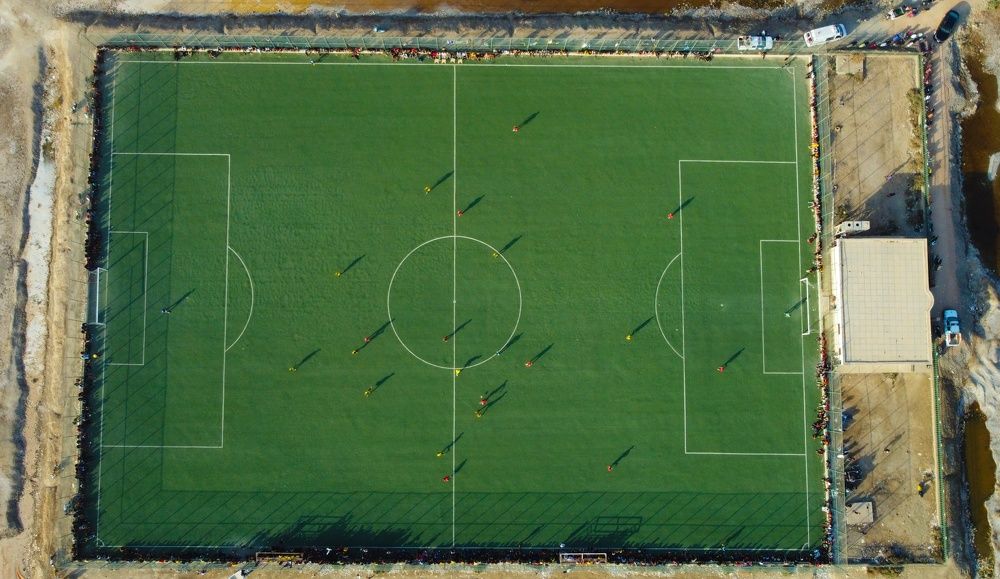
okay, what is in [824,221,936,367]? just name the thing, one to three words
building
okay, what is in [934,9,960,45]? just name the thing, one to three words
car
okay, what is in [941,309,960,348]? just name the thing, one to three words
vehicle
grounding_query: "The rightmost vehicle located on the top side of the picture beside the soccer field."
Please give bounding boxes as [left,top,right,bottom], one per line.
[802,26,844,49]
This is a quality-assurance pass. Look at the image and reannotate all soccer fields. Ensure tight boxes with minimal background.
[78,51,827,558]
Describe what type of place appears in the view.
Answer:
sports ground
